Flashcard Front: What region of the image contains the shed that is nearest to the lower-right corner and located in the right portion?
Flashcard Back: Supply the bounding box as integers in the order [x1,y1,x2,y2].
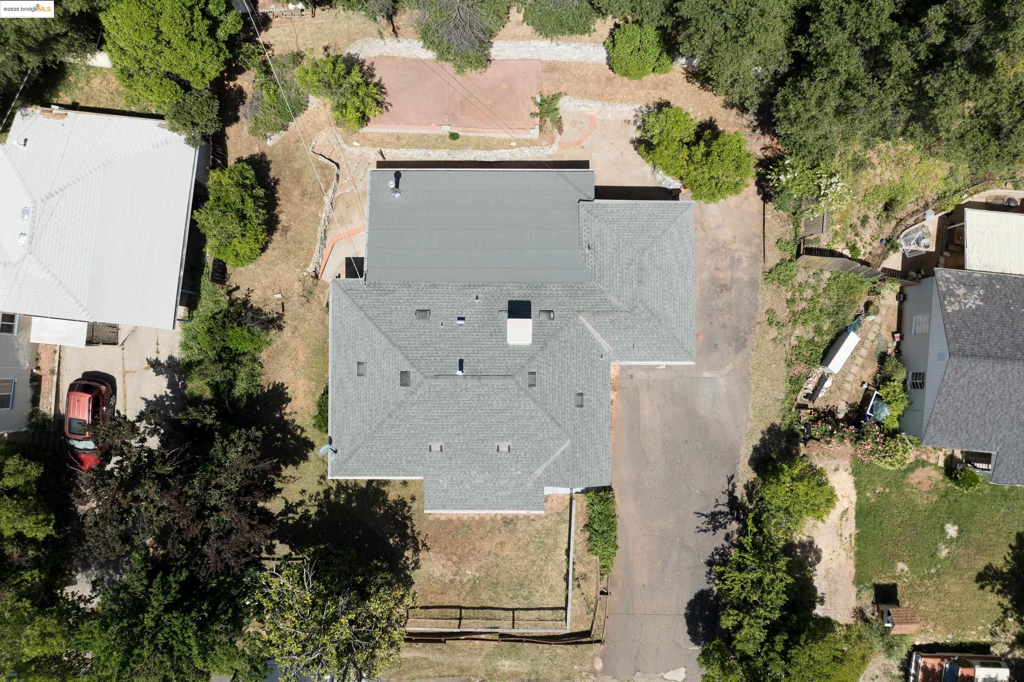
[861,599,920,635]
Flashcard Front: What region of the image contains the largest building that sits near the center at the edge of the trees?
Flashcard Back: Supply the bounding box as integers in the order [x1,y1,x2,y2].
[328,167,697,516]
